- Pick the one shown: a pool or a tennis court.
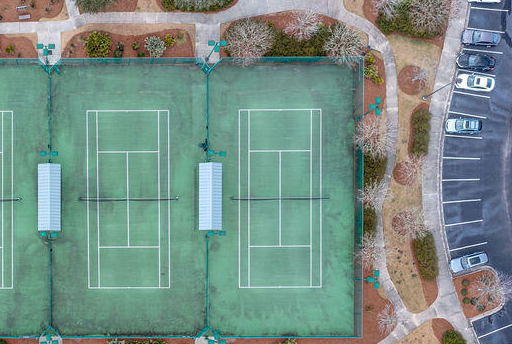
tennis court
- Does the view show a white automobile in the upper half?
Yes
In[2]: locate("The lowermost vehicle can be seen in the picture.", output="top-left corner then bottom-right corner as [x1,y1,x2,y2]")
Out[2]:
[450,252,489,272]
